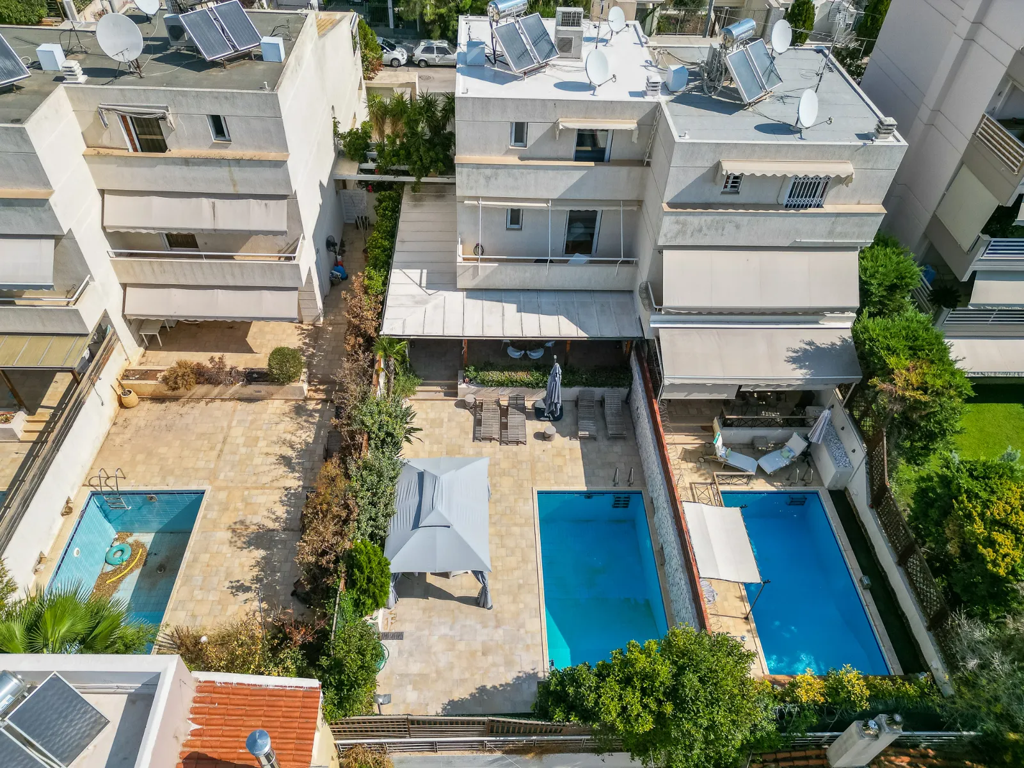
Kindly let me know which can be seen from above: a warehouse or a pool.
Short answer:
pool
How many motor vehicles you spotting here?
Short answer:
2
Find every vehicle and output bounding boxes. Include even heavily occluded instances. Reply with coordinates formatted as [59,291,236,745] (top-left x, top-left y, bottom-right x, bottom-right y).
[374,34,406,66]
[412,37,458,67]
